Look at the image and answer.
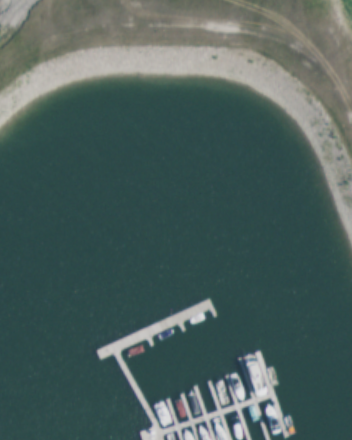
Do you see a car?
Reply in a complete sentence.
No, this view has no car in it.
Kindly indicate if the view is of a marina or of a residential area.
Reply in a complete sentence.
This image shows a marina.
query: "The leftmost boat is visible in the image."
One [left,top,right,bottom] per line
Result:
[128,340,145,356]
